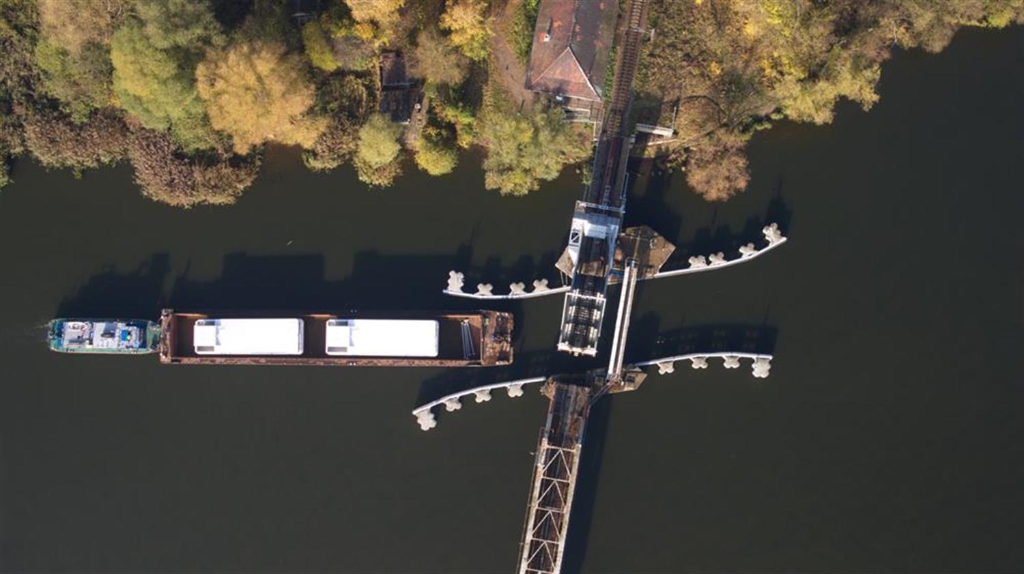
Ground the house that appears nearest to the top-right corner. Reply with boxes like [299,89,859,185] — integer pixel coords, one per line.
[524,0,620,101]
